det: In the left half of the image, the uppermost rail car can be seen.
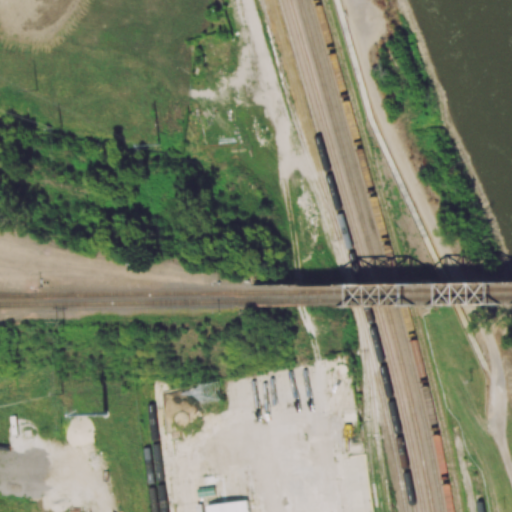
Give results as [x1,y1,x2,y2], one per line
[148,401,162,442]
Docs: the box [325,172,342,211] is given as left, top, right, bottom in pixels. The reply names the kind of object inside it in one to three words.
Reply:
rail car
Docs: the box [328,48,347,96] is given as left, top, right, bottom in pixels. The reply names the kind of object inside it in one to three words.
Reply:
rail car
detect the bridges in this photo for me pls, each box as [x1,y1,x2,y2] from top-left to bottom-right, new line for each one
[249,282,512,308]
